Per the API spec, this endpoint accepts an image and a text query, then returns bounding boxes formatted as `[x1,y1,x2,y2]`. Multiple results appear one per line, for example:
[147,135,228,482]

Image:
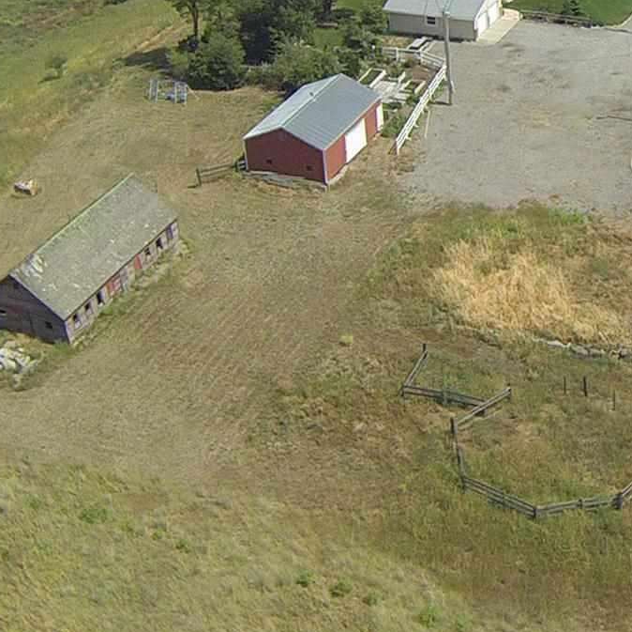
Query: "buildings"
[383,0,503,42]
[0,176,181,344]
[242,74,383,189]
